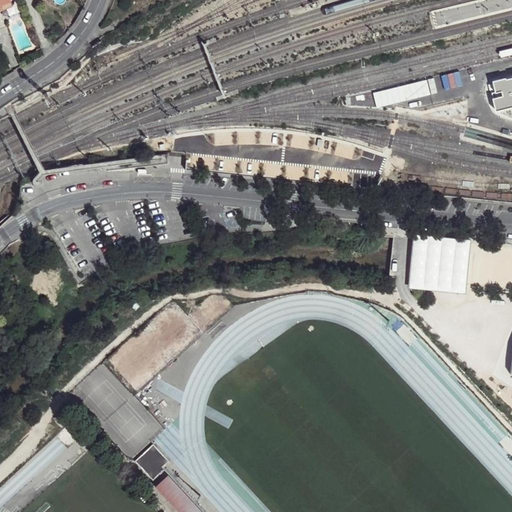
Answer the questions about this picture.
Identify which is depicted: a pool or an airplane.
pool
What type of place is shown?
sports ground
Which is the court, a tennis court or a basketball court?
tennis court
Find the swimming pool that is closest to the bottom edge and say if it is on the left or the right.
left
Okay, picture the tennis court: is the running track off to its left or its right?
right of it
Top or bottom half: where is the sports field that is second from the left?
bottom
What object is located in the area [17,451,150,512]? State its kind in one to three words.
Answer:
sports field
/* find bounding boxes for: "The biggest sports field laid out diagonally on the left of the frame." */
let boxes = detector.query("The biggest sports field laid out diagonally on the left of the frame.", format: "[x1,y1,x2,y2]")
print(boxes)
[108,305,202,390]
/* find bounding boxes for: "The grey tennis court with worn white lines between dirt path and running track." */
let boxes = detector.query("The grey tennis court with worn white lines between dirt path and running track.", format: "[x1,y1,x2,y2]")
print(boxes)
[74,364,164,460]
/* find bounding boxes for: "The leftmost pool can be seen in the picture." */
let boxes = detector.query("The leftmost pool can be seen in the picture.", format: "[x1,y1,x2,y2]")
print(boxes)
[10,14,36,54]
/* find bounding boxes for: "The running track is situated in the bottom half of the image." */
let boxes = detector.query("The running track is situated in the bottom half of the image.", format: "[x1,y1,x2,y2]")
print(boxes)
[154,293,512,512]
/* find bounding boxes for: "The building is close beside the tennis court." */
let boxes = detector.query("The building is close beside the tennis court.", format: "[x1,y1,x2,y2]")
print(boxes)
[136,446,168,481]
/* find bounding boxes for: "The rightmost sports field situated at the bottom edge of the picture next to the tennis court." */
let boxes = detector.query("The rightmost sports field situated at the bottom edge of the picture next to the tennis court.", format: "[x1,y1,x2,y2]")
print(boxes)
[206,320,512,512]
